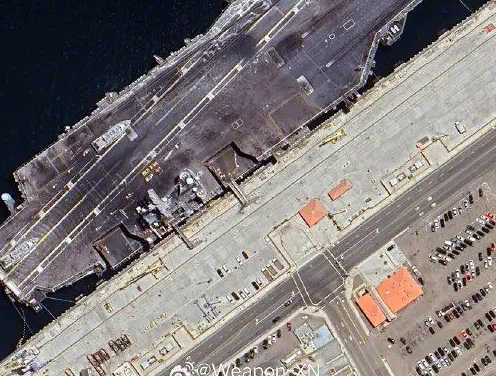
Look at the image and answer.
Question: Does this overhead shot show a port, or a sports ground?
port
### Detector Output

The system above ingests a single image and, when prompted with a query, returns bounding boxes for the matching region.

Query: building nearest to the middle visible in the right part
[299,198,328,226]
